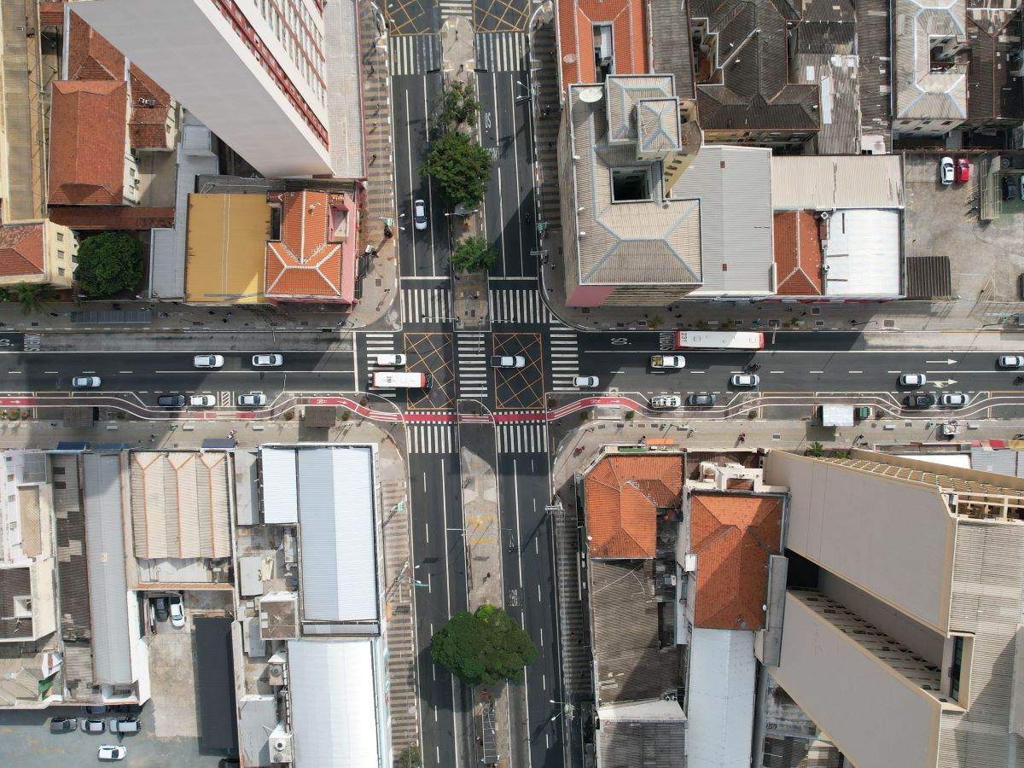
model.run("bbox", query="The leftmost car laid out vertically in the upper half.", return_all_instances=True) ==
[413,199,427,230]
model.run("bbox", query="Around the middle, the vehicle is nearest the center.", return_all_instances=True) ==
[491,354,525,368]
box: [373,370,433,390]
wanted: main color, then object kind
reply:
white bus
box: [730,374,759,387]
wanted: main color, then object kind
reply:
white vehicle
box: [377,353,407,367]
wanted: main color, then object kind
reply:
white vehicle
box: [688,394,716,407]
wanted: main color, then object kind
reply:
gray vehicle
